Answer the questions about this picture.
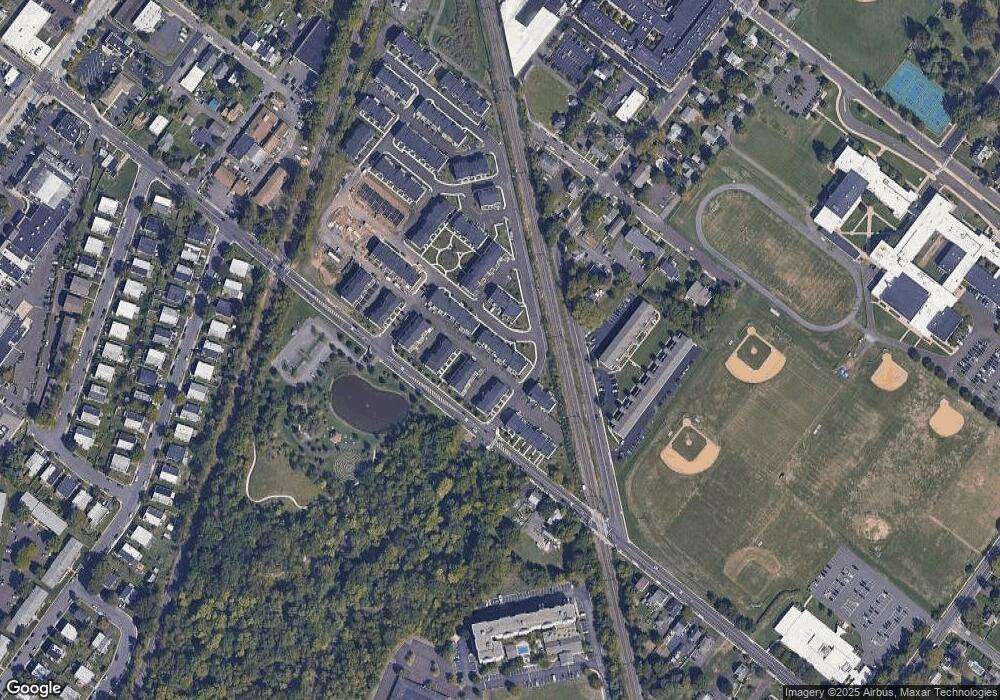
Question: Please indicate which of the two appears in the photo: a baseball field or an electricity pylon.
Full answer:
Of the two, only a baseball field appears.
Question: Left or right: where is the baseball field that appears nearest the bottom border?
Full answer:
The baseball field that appears nearest the bottom border sits on the right side.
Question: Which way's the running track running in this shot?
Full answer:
Seen from above, the running track lies diagonally.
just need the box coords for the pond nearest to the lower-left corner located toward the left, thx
[331,375,408,432]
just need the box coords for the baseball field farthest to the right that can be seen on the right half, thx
[929,398,965,437]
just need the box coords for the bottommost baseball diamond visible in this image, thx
[724,546,782,608]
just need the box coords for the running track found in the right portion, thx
[696,185,863,330]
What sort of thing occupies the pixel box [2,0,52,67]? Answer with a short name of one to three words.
building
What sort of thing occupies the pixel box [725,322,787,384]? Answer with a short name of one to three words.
baseball field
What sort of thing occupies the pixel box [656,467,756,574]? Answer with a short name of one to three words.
soccer field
